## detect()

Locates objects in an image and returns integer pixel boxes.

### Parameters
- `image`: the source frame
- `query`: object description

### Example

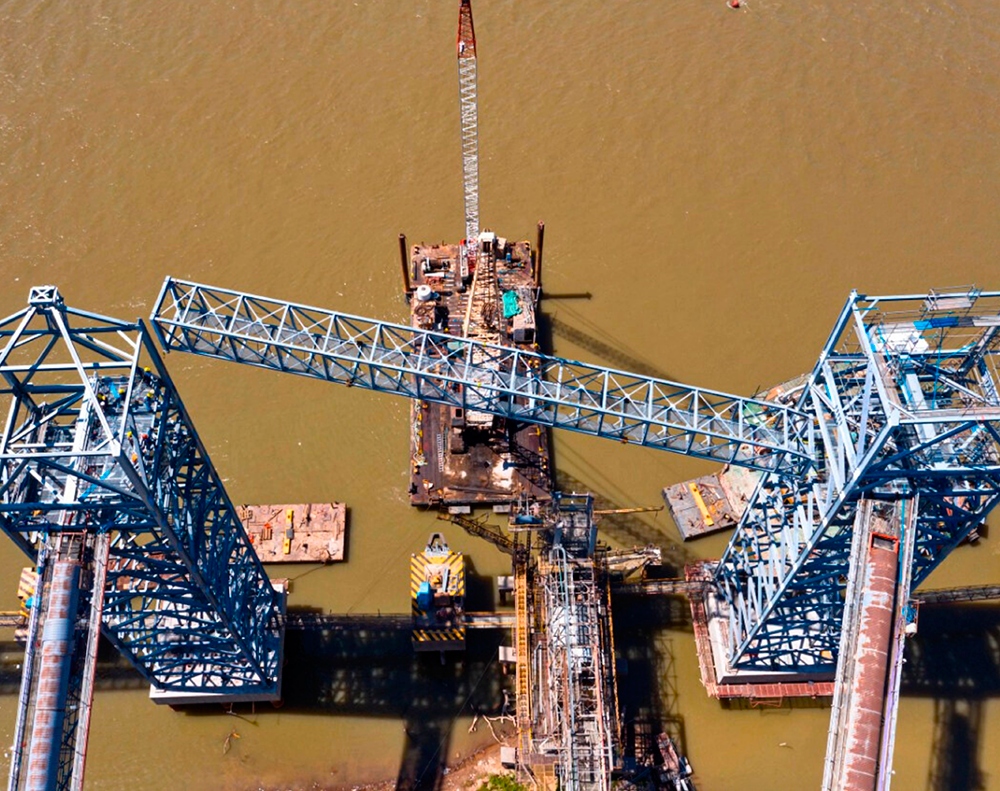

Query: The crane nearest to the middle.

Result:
[447,231,517,465]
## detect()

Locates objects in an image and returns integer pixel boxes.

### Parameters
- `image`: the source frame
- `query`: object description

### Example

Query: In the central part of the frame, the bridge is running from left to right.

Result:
[148,259,814,481]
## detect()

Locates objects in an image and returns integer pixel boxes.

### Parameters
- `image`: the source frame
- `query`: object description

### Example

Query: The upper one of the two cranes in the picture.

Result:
[455,0,481,292]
